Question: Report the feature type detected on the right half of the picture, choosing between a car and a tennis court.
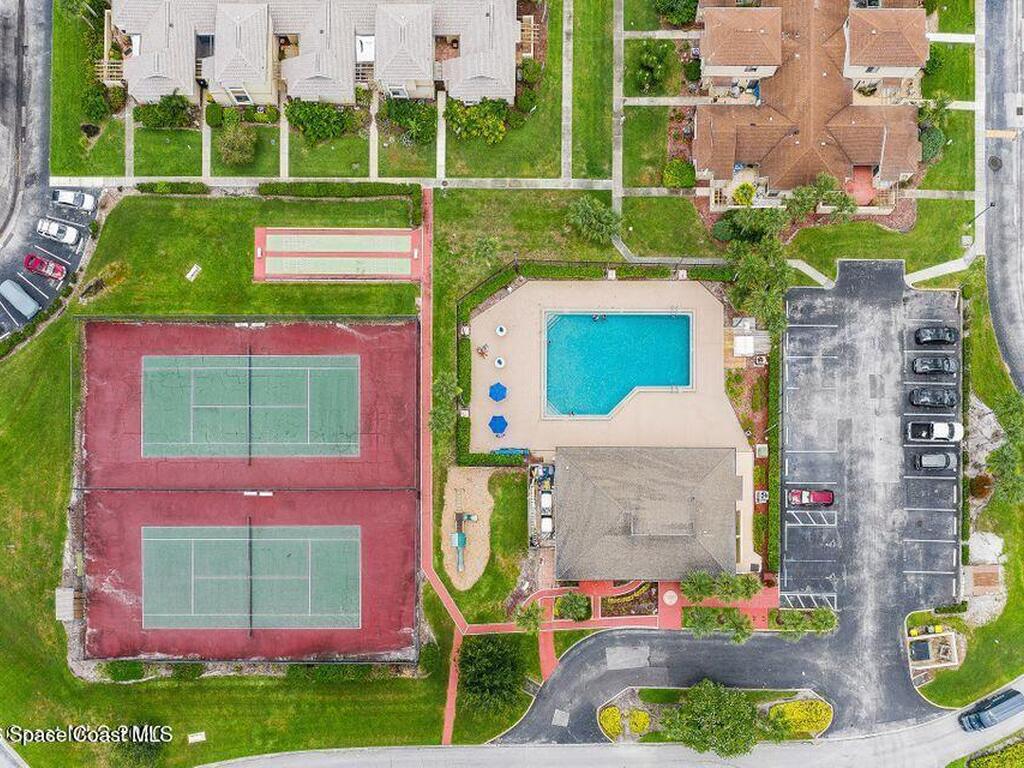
car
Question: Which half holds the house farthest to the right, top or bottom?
top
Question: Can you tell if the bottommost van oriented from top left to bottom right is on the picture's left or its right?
left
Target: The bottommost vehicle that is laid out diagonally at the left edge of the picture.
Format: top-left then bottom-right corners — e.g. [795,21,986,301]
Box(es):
[0,276,42,322]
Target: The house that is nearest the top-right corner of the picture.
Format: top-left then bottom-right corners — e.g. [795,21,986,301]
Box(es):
[693,0,928,190]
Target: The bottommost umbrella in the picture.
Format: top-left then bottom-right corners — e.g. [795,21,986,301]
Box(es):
[490,415,507,435]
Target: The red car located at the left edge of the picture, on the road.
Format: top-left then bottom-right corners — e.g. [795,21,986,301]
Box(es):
[23,253,70,280]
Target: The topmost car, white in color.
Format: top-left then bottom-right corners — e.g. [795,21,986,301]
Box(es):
[52,190,99,213]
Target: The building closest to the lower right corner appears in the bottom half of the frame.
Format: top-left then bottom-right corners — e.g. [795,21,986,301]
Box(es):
[555,447,742,581]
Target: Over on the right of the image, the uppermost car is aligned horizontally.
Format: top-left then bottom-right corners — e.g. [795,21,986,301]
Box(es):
[914,326,959,345]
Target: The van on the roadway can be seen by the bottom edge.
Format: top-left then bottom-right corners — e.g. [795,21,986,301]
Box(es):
[960,688,1024,732]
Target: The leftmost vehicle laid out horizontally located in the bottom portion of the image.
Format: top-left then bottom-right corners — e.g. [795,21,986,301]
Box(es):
[786,488,832,507]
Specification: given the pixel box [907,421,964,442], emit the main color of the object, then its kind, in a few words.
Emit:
white truck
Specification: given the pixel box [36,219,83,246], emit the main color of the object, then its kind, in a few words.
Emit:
white car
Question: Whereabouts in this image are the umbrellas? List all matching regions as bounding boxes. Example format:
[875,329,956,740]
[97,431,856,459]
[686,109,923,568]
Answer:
[490,415,507,435]
[489,382,507,402]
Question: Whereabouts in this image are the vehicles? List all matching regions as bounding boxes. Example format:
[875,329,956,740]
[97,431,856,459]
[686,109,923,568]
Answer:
[786,488,832,507]
[36,219,83,246]
[541,490,552,513]
[915,452,957,471]
[52,190,99,213]
[541,513,552,534]
[914,326,959,345]
[960,688,1024,732]
[0,276,42,322]
[909,388,958,409]
[907,421,964,442]
[23,253,70,280]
